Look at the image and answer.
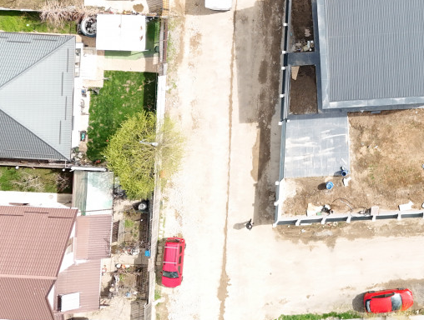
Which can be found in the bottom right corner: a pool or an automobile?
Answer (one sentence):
It is an automobile that can be seen in the bottom right corner.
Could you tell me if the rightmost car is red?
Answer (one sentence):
Yes, red is the color of the rightmost car.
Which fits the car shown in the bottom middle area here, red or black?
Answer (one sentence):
The car shown in the bottom middle area is red.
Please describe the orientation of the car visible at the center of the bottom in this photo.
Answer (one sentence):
In this picture, the car visible at the center of the bottom lies from top to bottom.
